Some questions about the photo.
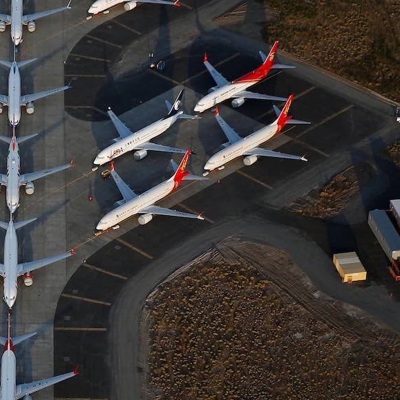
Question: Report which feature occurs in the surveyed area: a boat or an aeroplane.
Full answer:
The one in the frame is an aeroplane.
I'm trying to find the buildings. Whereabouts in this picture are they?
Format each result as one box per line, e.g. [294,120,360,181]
[334,252,368,283]
[390,198,400,225]
[371,209,400,259]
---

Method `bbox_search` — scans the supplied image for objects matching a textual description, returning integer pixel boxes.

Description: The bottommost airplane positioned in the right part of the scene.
[204,94,310,173]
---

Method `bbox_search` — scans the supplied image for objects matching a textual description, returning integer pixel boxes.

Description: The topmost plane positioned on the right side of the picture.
[195,40,295,115]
